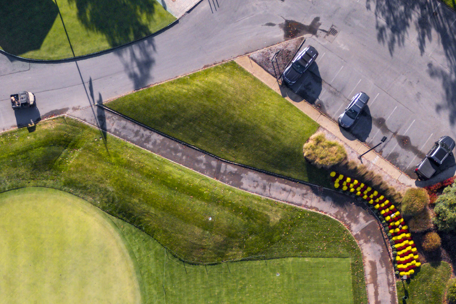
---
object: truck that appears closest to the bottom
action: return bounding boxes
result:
[411,137,455,184]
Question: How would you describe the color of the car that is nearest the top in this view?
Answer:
black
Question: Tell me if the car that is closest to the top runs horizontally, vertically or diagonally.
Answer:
diagonally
